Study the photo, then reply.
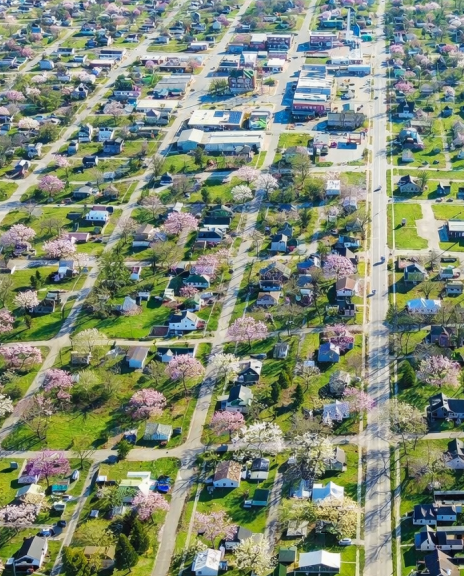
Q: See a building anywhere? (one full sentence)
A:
Yes, the image includes a building.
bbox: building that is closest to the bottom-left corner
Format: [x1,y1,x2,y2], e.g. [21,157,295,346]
[9,535,55,573]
